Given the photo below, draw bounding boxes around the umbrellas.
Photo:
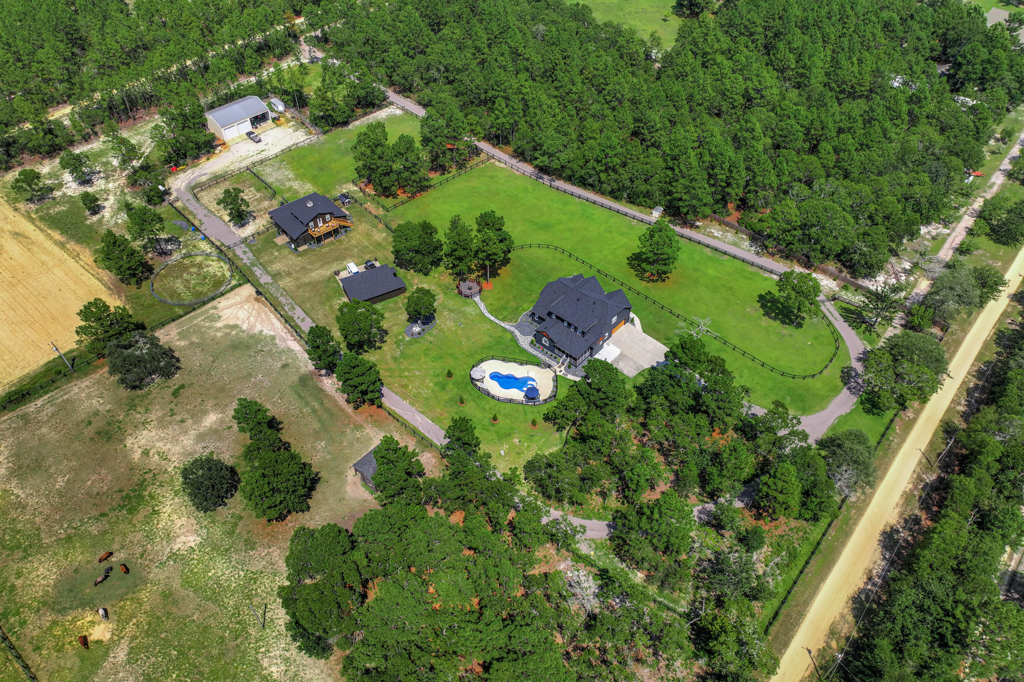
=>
[525,386,540,398]
[468,366,487,385]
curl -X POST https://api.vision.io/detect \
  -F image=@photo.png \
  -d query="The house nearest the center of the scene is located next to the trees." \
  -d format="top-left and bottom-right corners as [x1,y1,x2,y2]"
[530,273,635,368]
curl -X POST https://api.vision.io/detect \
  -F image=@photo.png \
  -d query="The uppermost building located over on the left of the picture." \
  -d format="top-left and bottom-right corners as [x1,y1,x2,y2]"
[201,96,271,140]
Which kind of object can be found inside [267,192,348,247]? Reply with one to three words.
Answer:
barn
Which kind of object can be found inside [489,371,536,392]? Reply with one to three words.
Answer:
swimming pool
